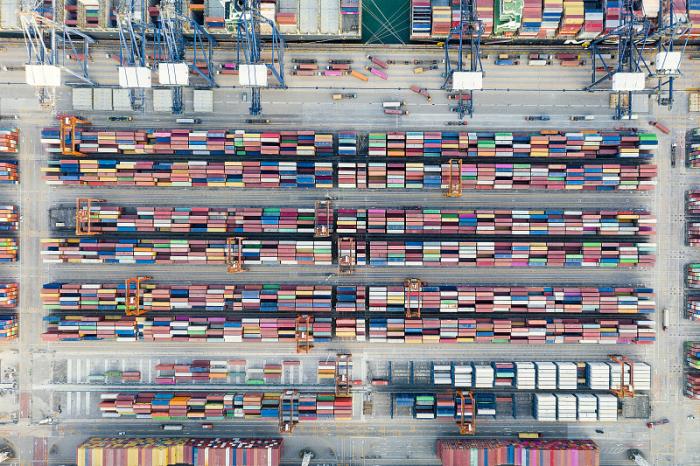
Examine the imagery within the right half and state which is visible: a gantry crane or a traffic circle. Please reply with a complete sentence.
There is a gantry crane within the right half.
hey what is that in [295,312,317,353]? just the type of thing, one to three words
container crane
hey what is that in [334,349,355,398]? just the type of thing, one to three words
container crane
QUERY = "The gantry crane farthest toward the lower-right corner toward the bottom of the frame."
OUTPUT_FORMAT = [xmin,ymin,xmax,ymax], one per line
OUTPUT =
[600,351,632,396]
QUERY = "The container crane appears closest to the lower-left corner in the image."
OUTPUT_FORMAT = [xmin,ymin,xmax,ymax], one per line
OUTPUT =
[125,275,154,316]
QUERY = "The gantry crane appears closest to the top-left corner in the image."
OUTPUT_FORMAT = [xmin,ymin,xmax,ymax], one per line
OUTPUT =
[18,0,101,112]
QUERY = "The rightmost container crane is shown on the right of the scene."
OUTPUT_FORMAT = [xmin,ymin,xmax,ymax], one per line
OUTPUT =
[624,0,698,118]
